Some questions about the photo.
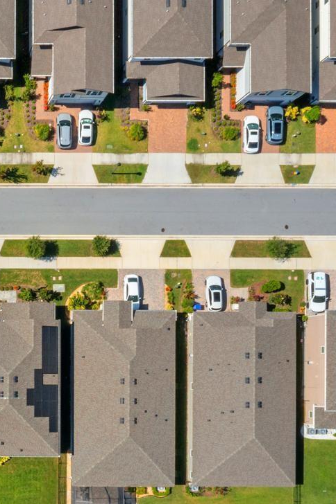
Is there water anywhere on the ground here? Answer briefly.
No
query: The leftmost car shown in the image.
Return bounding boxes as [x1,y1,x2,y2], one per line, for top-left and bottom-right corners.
[56,111,75,149]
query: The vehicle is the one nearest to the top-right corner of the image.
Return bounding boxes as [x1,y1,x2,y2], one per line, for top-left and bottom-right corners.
[264,107,285,145]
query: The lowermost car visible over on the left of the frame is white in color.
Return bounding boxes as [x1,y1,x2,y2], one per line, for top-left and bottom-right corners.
[122,274,141,310]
